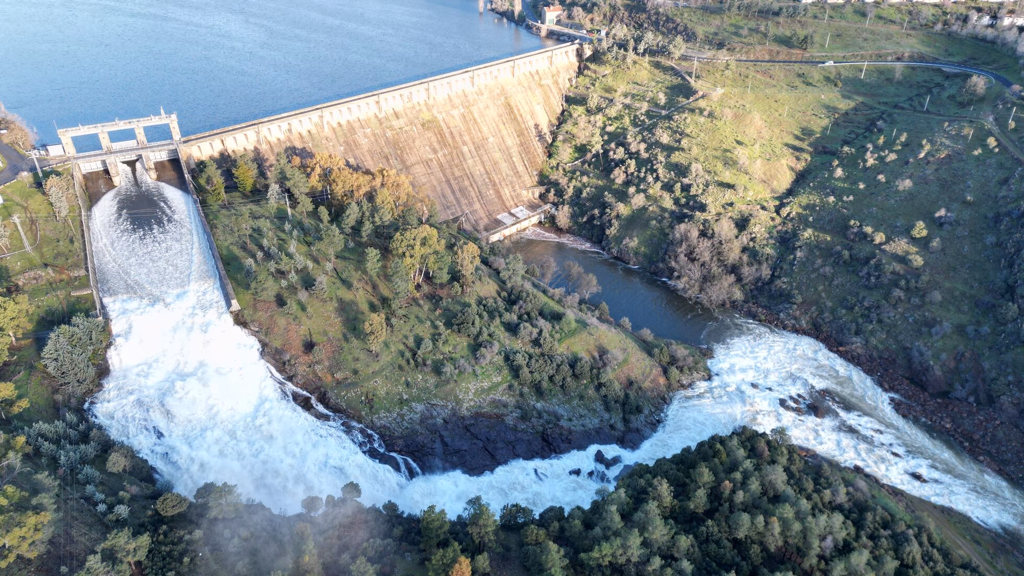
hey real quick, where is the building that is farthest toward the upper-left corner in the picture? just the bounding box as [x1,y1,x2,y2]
[36,145,64,161]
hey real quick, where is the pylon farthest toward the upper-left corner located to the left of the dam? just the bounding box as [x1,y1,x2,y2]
[28,151,46,185]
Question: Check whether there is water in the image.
Yes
